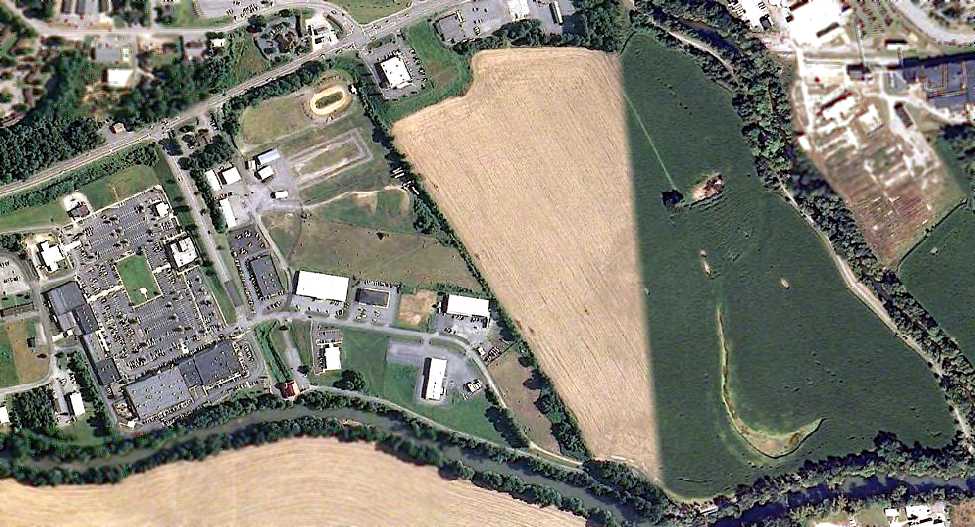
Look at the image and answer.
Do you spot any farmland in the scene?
Yes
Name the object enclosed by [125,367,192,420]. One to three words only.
building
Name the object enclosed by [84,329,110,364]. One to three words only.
building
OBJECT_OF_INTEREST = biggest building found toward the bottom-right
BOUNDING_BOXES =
[906,504,931,520]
